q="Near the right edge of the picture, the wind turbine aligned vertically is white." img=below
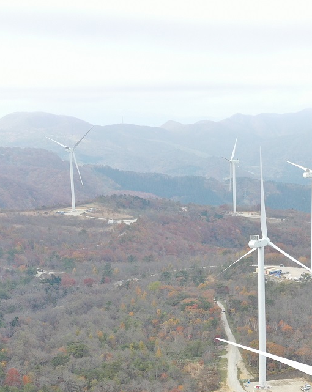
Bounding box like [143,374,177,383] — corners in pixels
[213,146,312,388]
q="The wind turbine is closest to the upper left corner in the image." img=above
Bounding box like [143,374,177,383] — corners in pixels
[45,125,94,210]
